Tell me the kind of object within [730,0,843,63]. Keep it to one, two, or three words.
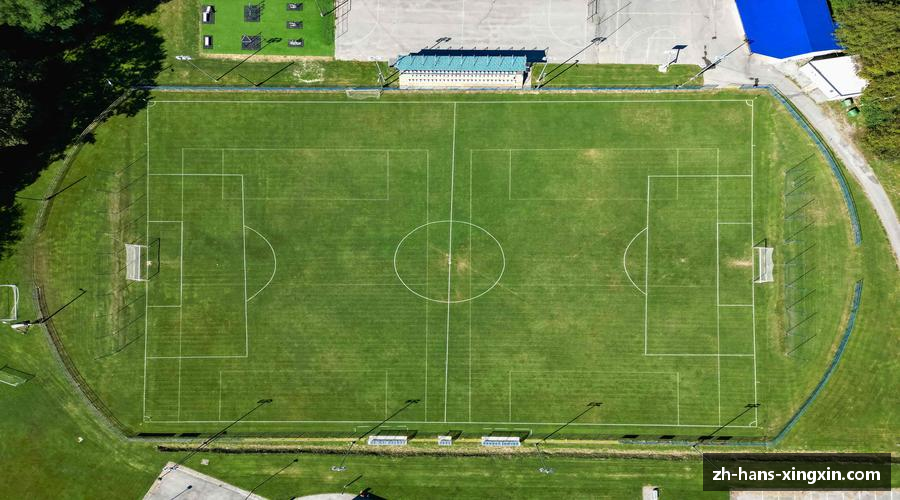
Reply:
building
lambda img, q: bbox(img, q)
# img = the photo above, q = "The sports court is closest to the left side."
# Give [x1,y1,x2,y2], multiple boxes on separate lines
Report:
[337,0,586,61]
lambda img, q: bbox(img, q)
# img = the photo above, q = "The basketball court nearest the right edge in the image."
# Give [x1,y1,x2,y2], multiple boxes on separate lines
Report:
[605,0,722,62]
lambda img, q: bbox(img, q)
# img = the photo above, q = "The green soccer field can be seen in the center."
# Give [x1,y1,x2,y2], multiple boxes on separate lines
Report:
[144,100,759,434]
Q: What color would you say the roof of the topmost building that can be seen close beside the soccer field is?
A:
blue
